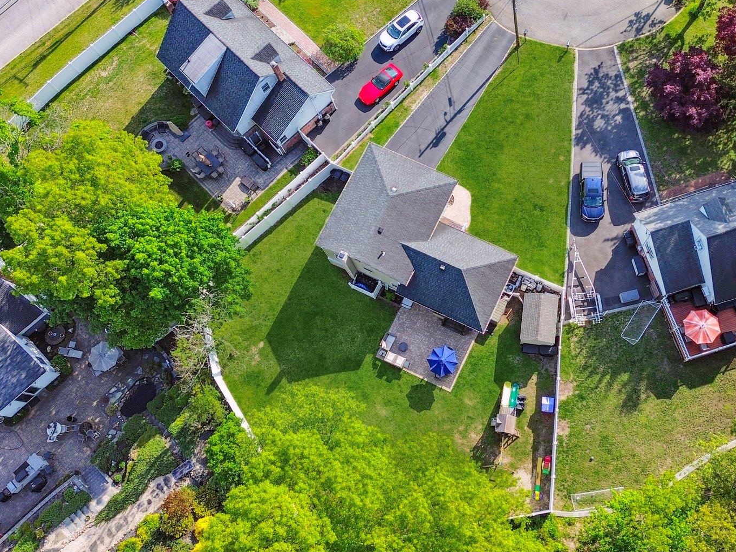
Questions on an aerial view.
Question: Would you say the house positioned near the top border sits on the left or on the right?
left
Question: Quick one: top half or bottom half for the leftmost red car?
top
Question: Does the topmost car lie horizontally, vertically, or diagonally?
diagonally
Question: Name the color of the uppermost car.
white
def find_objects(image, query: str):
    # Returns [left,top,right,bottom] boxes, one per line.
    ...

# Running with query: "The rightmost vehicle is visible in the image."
[618,147,655,206]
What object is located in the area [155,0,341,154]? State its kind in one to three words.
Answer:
house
